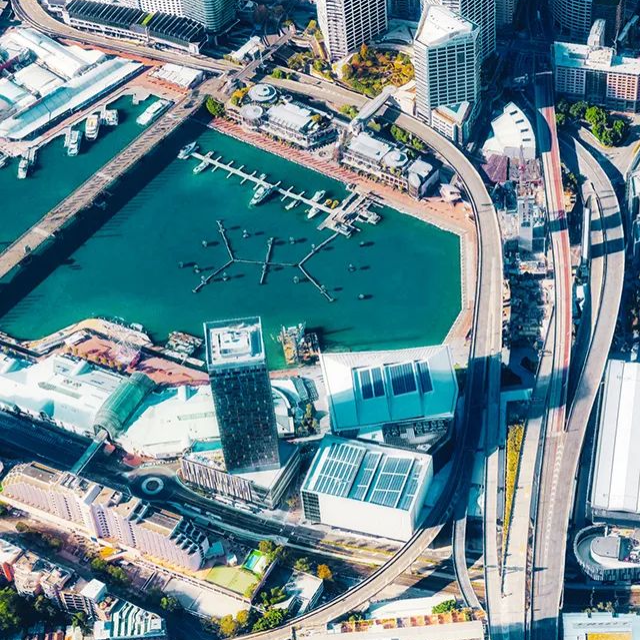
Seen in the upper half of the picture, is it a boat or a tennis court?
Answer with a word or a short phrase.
boat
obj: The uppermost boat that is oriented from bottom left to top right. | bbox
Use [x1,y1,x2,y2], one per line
[138,96,164,126]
